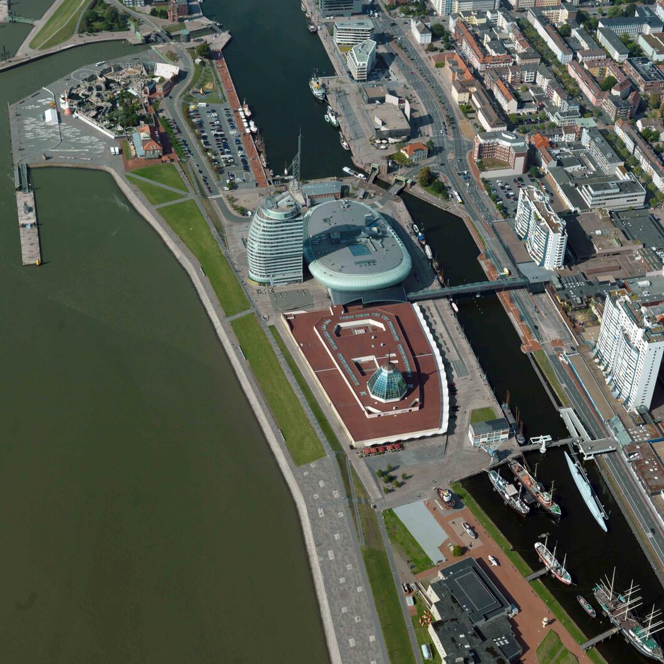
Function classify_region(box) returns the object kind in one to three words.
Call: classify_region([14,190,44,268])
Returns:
pier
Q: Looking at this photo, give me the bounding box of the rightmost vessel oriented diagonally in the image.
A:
[593,567,664,664]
